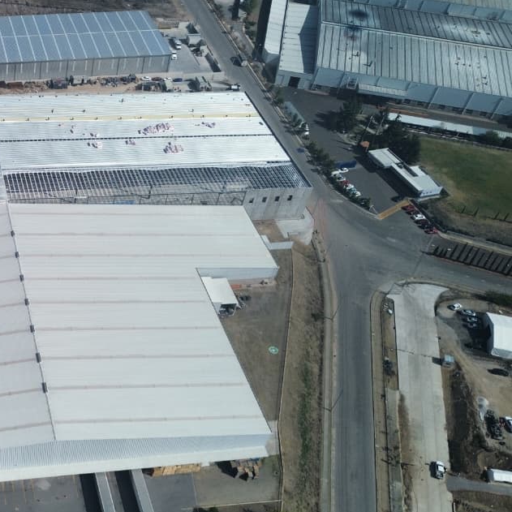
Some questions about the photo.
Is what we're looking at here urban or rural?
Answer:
urban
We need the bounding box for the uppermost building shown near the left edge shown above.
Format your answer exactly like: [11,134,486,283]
[0,10,169,80]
